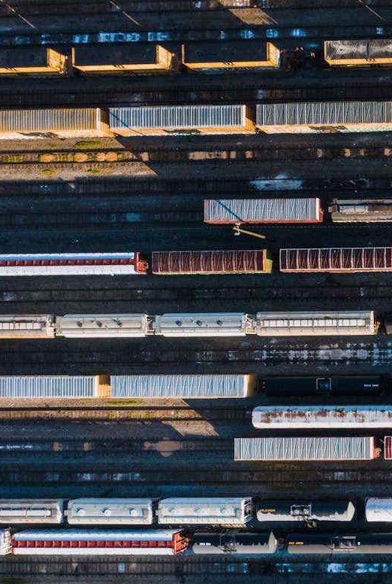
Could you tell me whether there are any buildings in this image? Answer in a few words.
No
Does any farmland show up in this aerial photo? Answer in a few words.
No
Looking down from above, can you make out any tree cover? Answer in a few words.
No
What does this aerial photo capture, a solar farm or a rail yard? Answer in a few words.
rail yard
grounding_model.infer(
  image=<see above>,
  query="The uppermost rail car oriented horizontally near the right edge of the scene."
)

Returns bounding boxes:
[256,101,392,134]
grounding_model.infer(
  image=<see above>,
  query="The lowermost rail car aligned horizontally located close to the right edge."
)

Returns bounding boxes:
[286,526,392,555]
